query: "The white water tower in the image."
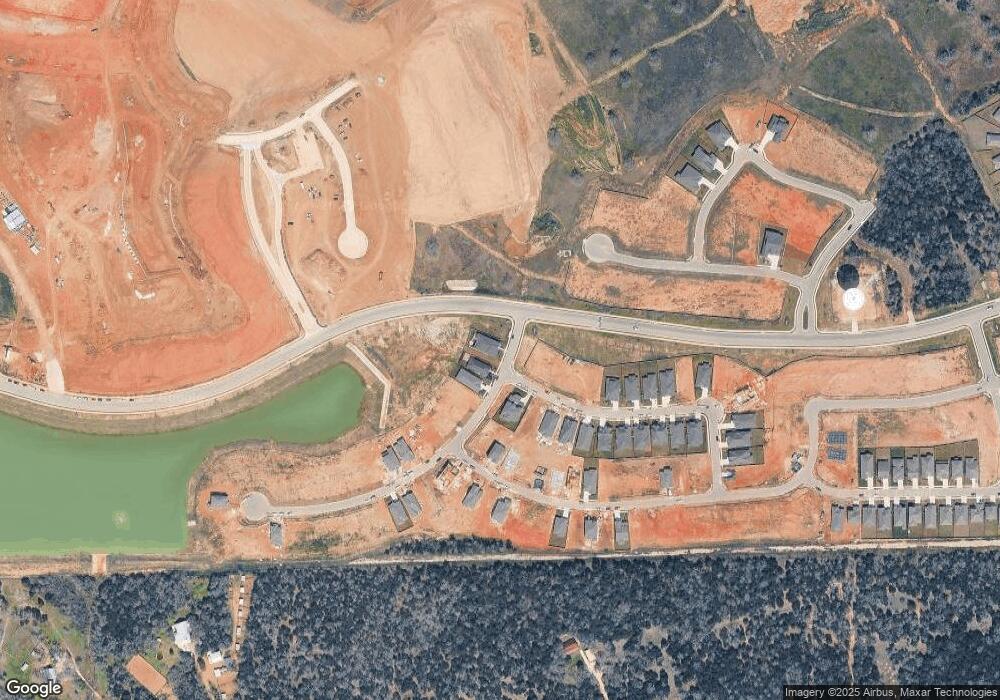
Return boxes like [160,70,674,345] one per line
[844,287,866,309]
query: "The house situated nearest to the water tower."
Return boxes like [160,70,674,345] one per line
[762,228,782,257]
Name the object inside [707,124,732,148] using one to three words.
house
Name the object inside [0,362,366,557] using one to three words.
pond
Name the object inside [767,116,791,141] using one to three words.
house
